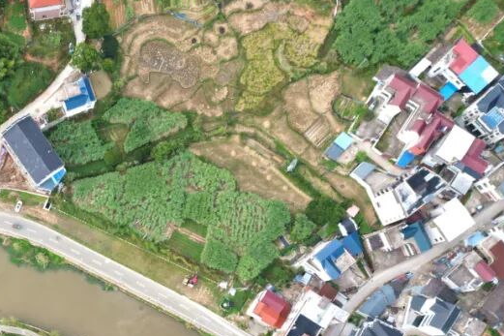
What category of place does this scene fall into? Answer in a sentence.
This looks like a residential area.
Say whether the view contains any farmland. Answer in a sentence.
Yes, there is farmland in the image.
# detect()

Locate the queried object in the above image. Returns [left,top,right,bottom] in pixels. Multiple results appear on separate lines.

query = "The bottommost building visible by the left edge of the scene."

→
[3,115,66,191]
